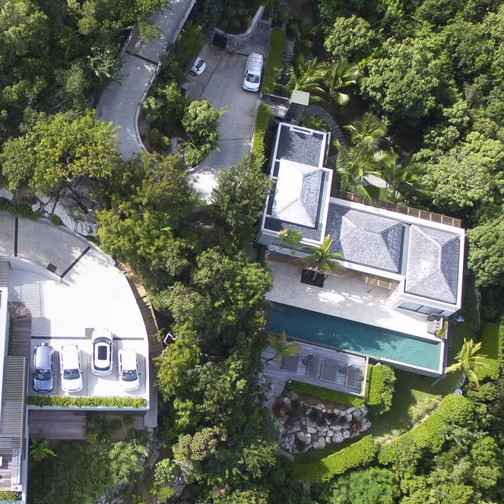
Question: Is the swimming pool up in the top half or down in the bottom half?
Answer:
bottom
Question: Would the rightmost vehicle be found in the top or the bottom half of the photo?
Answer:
top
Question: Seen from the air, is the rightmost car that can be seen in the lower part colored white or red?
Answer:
white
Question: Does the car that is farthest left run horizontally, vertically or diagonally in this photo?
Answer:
vertically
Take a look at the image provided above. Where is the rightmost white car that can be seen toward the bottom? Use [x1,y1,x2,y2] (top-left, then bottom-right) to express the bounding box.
[117,349,142,393]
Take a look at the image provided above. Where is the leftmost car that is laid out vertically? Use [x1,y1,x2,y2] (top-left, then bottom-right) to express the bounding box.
[30,340,55,393]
